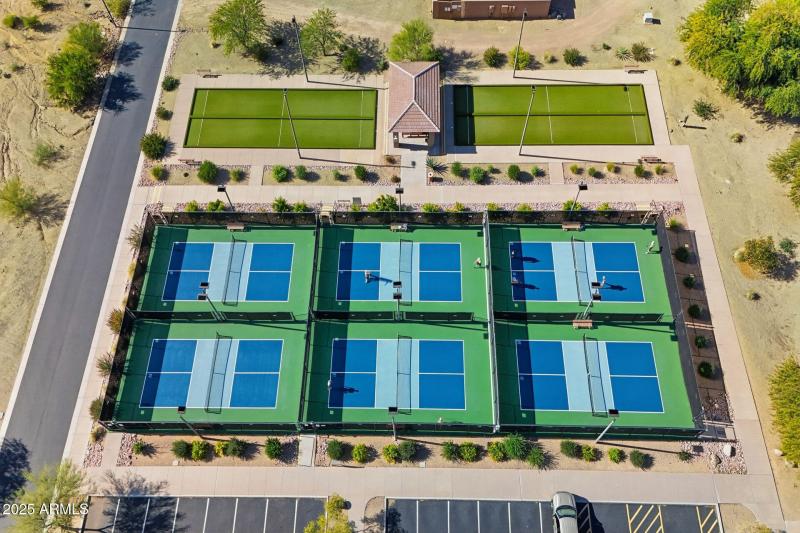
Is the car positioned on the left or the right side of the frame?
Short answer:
right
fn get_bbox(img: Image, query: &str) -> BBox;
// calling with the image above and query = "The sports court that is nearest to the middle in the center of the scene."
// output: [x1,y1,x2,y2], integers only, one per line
[311,224,487,321]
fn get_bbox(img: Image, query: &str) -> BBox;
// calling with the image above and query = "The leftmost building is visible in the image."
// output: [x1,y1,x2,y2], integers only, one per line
[388,61,442,158]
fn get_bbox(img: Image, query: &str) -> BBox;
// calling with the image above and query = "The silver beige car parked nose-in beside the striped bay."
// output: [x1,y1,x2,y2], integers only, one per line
[553,493,581,533]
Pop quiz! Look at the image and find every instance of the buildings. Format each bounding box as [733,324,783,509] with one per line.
[388,61,442,158]
[433,0,552,20]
